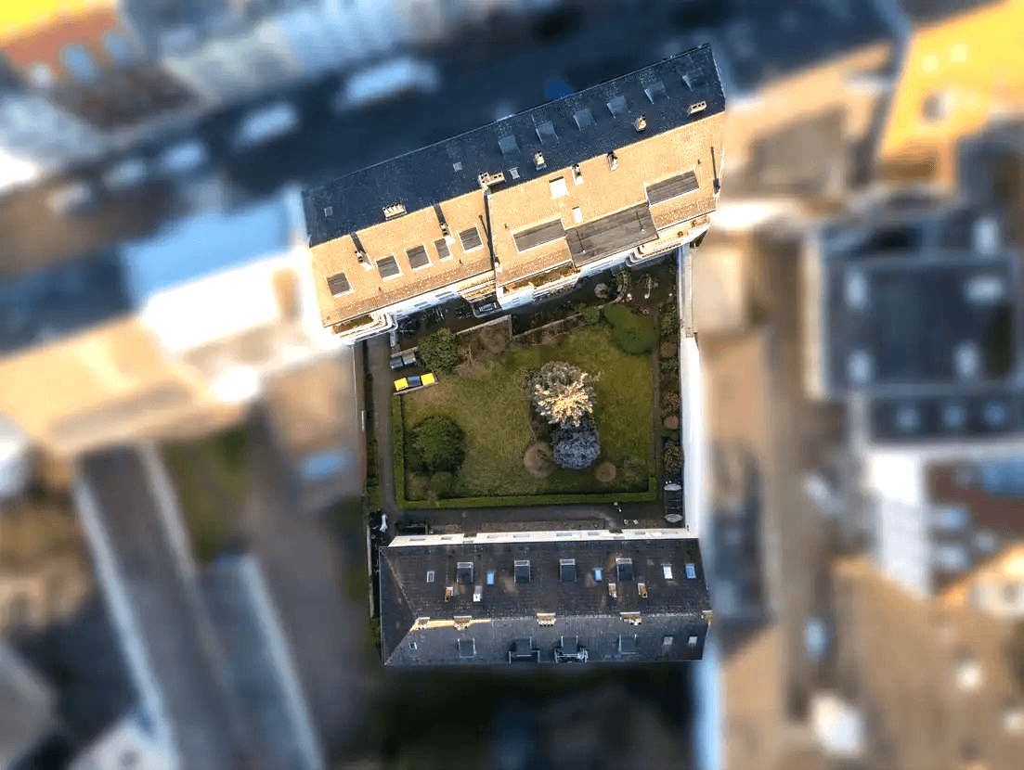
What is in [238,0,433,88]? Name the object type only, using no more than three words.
house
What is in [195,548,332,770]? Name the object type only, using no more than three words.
building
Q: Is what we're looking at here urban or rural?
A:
urban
